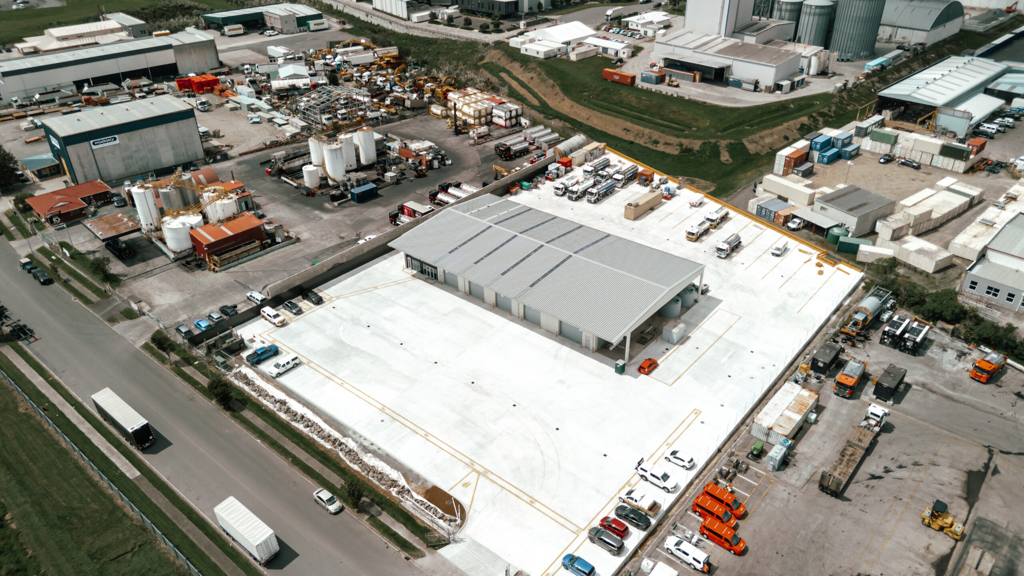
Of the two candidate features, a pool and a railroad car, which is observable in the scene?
railroad car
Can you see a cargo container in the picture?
Yes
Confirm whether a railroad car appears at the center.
No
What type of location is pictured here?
industrial area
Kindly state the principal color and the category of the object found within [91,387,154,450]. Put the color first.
white trailer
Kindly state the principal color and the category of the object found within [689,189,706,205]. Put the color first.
white vehicle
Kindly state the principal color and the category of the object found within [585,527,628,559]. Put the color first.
gray car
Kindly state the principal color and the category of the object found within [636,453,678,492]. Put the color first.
white truck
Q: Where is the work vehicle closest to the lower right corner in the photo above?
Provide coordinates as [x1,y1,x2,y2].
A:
[918,501,969,540]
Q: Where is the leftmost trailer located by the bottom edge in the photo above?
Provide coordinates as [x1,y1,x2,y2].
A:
[214,496,279,565]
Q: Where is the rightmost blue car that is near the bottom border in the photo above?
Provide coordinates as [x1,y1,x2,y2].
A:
[558,551,599,576]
